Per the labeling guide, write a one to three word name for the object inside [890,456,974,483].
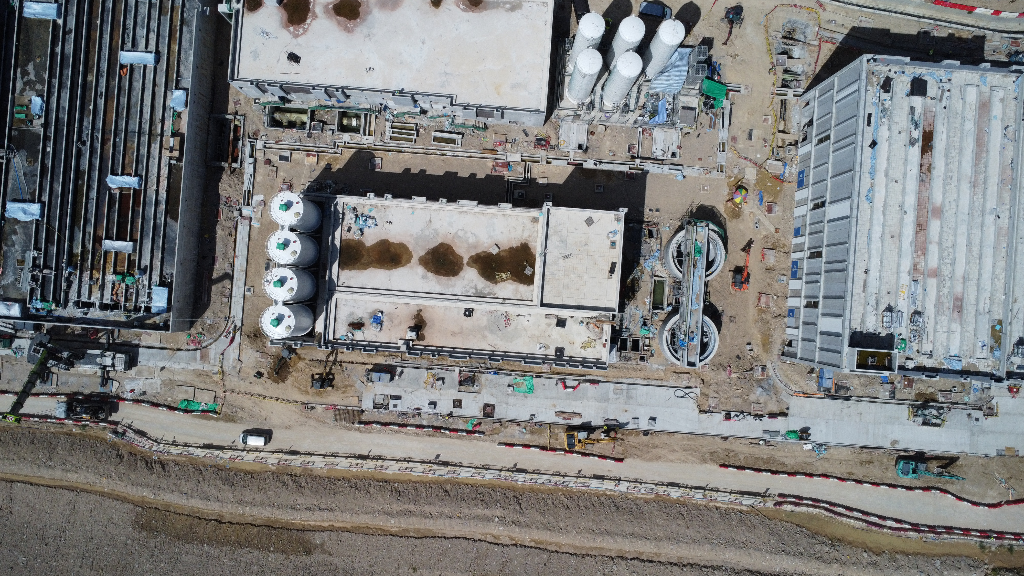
work vehicle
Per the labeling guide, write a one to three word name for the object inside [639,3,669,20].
car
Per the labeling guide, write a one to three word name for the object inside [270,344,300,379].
work vehicle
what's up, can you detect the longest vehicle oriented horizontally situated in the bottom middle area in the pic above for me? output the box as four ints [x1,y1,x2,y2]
[559,429,628,451]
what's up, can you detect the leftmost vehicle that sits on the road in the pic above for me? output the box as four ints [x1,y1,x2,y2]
[55,401,115,420]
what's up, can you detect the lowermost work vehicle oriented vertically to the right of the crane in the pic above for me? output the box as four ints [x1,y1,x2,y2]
[311,349,334,396]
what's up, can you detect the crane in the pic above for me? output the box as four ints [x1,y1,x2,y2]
[0,331,138,425]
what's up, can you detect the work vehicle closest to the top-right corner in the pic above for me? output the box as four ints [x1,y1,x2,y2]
[721,0,744,46]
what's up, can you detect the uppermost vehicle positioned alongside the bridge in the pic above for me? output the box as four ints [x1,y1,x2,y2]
[728,245,753,294]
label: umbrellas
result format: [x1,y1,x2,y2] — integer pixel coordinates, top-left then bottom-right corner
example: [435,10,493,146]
[733,188,748,203]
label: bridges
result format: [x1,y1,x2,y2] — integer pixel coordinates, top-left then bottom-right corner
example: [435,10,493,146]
[674,225,708,369]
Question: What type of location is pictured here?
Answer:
industrial area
